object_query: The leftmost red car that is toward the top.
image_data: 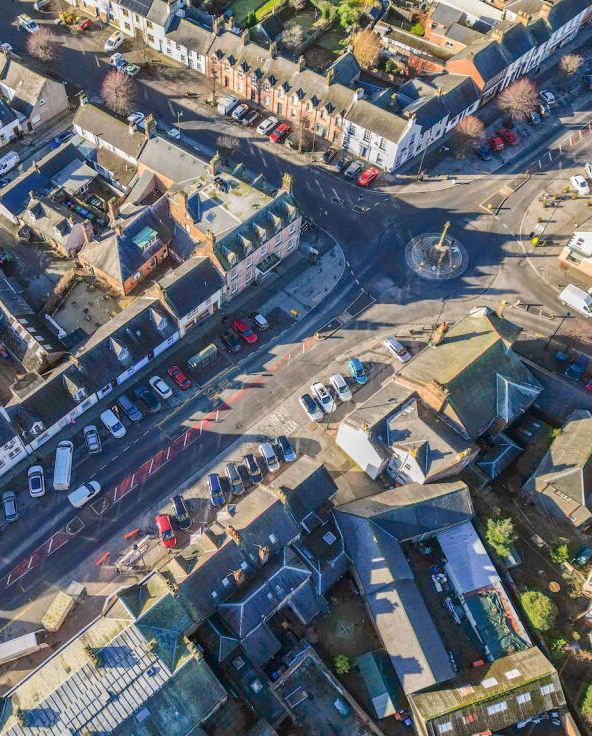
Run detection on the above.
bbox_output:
[77,19,94,33]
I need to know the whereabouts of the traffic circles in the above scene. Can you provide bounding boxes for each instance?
[405,234,467,281]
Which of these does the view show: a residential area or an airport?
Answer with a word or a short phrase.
residential area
